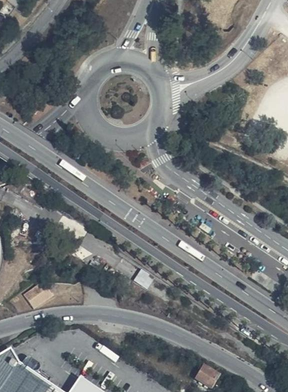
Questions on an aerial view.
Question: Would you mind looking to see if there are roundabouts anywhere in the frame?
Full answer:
Yes, the picture does show a roundabout.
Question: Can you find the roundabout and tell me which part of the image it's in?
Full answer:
The roundabout is located in the top region of the scene.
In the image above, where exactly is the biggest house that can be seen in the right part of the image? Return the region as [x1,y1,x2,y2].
[194,363,220,387]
